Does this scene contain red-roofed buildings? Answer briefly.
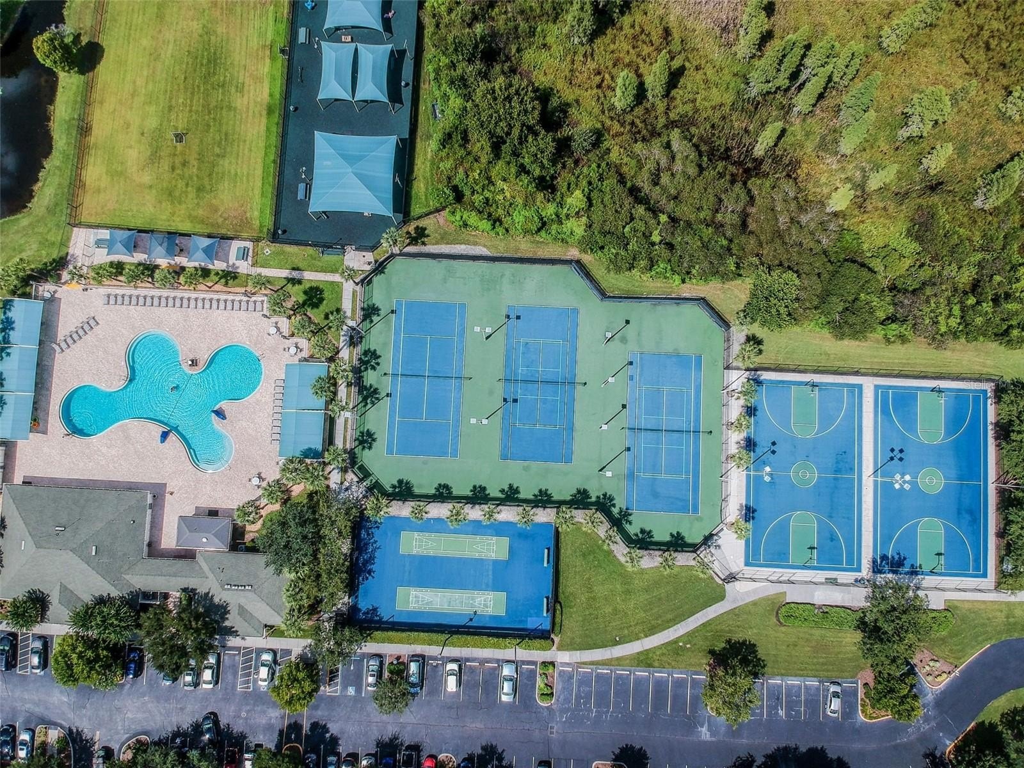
No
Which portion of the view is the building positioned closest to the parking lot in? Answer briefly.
bottom left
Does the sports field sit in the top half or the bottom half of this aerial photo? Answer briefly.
top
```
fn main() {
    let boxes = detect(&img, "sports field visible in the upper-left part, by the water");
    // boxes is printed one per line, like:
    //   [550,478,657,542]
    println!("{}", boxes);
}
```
[73,0,286,238]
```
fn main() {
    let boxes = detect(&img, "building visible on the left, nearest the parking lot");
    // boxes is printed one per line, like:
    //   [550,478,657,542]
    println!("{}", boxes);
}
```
[0,484,286,637]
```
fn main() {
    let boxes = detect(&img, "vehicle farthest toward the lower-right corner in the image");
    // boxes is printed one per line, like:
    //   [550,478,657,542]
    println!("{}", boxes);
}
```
[825,680,842,717]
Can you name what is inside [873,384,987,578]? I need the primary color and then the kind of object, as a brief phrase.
blue basketball court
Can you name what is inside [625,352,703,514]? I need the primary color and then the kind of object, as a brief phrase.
blue tennis court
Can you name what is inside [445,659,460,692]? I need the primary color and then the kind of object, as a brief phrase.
white car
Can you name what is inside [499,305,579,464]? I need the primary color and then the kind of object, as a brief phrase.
blue tennis court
